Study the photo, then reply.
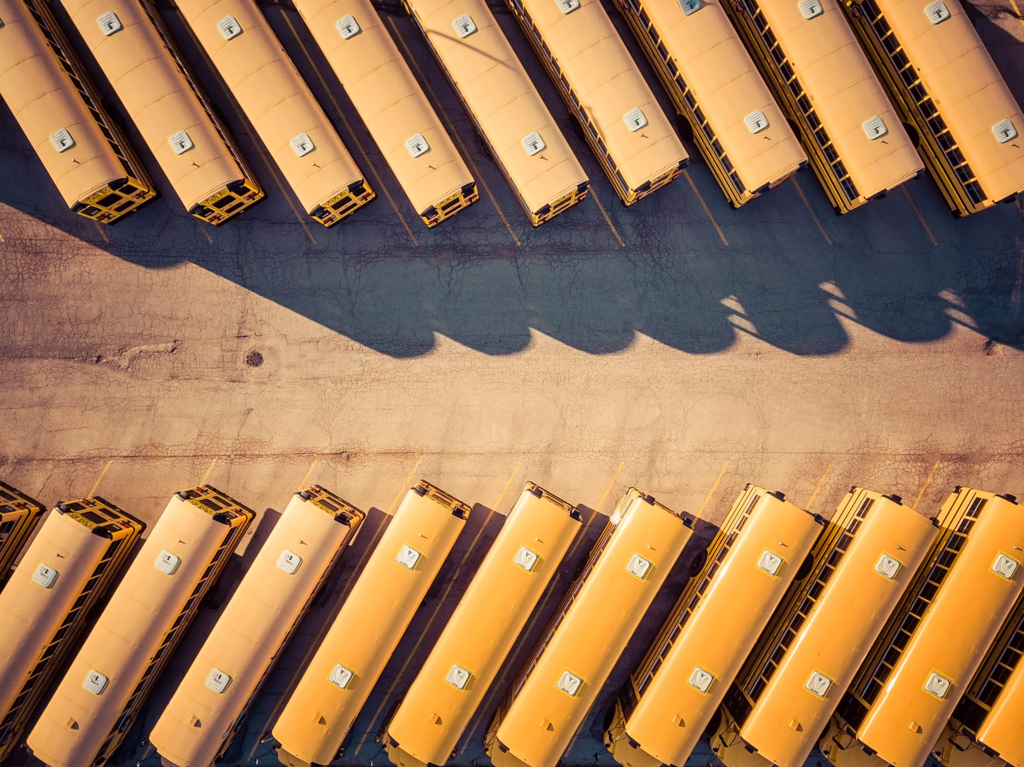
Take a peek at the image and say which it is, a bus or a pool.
bus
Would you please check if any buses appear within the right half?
Yes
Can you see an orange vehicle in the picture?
Yes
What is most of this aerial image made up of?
paved ground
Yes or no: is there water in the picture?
No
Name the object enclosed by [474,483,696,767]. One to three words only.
bus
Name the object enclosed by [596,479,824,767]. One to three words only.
bus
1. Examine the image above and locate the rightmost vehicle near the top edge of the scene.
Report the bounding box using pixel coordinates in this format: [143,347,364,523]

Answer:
[833,0,1024,221]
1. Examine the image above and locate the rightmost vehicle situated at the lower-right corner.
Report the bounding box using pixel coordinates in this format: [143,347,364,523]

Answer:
[925,580,1024,767]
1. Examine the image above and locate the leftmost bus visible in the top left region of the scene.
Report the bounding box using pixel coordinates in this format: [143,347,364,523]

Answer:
[0,0,164,230]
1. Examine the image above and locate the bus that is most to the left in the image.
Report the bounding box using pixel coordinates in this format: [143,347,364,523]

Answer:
[0,476,51,590]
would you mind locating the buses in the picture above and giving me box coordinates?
[0,476,51,590]
[0,491,151,767]
[144,479,368,767]
[61,0,270,231]
[260,475,474,767]
[719,0,926,219]
[504,0,692,211]
[833,0,1024,221]
[370,476,586,767]
[811,483,1024,767]
[291,0,482,234]
[925,580,1024,767]
[474,483,696,767]
[29,480,259,767]
[0,0,164,230]
[178,0,379,233]
[701,483,939,767]
[613,0,810,213]
[596,479,824,767]
[396,0,593,233]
